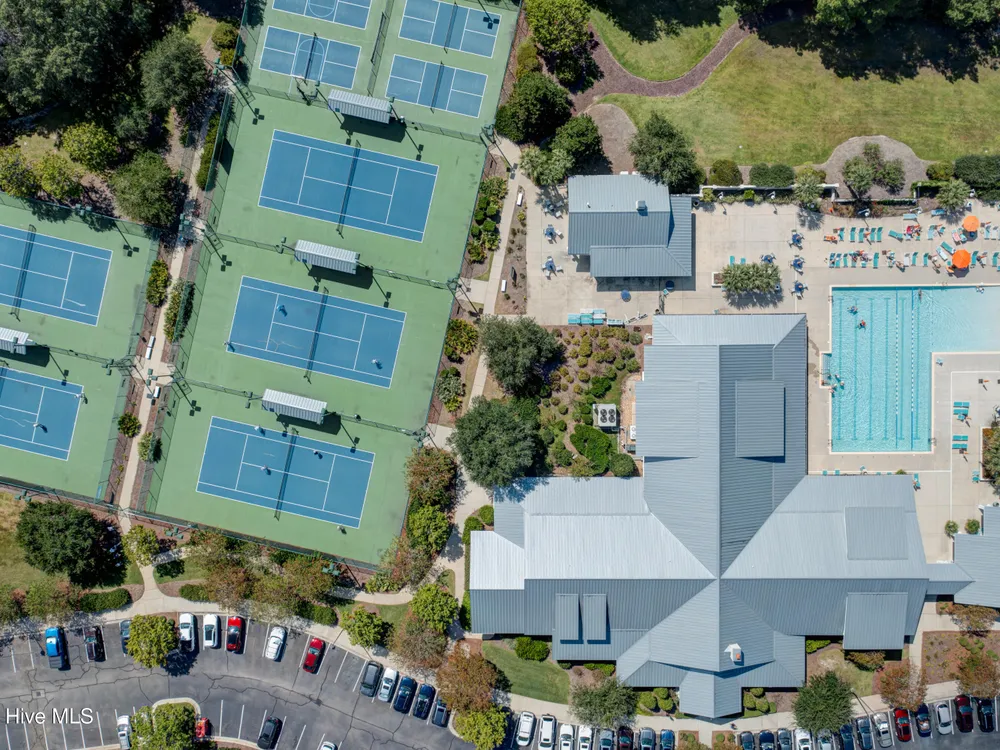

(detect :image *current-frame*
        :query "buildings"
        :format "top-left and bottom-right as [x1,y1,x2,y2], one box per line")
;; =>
[471,314,929,719]
[569,164,691,276]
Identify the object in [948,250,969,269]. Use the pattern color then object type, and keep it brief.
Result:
orange umbrella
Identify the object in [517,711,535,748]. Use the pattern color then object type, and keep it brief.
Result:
white car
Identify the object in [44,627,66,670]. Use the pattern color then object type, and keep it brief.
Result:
blue vehicle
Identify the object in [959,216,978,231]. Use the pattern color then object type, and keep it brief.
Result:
orange umbrella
